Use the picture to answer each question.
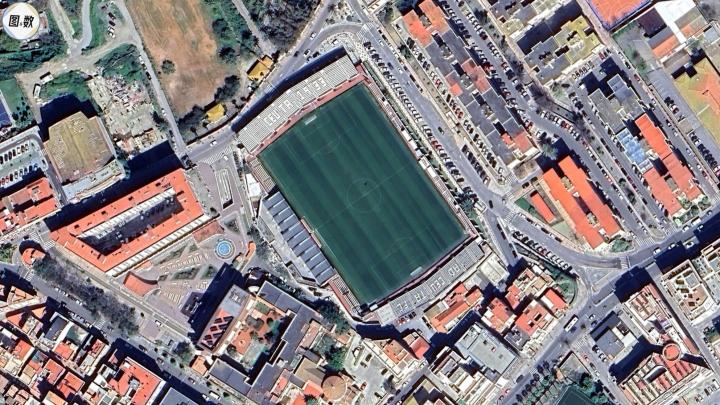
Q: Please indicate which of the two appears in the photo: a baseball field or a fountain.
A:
fountain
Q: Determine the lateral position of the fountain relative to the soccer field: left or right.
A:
left of it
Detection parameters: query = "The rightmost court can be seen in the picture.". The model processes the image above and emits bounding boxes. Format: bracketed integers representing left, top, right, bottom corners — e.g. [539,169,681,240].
[593,0,652,31]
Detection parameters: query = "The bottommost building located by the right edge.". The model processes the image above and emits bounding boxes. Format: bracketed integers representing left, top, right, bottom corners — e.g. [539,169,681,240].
[618,353,702,405]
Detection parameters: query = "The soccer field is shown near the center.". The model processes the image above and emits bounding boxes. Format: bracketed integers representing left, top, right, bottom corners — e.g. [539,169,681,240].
[252,73,472,314]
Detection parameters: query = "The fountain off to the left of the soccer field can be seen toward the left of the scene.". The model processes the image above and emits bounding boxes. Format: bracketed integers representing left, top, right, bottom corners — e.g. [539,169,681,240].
[212,236,236,260]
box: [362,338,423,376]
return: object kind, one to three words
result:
house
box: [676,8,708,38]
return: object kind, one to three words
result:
shed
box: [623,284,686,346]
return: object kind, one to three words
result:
building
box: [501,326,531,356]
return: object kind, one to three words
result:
building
